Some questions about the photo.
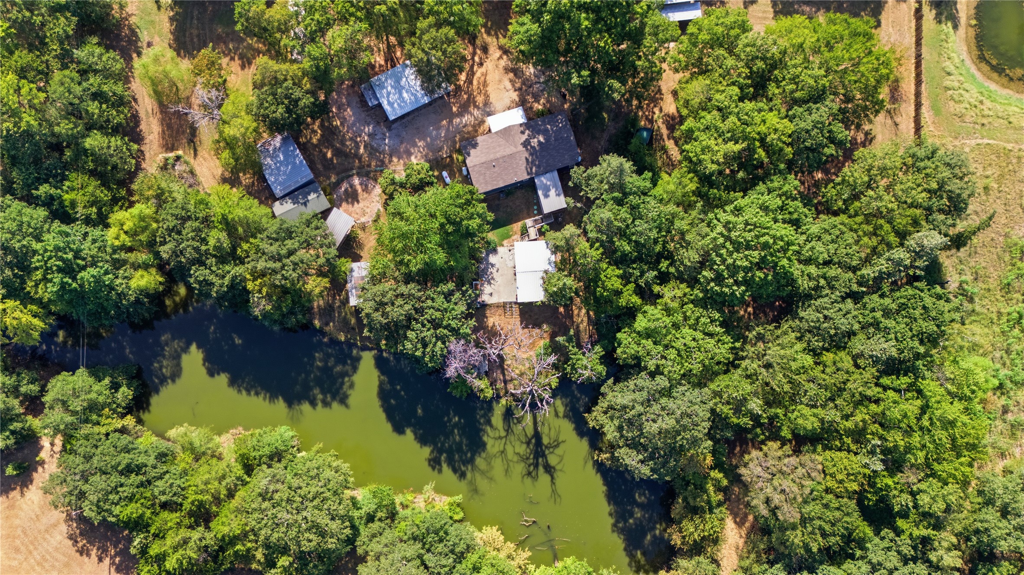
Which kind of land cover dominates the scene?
trees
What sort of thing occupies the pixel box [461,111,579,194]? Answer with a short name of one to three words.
house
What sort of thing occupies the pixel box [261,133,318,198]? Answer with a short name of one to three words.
shed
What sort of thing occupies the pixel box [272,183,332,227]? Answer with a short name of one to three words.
shed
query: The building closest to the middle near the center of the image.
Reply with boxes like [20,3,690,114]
[514,240,556,302]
